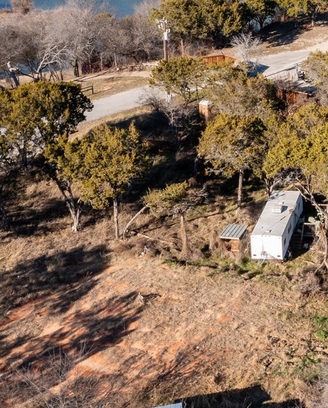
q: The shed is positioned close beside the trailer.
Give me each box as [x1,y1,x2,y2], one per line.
[218,222,253,259]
